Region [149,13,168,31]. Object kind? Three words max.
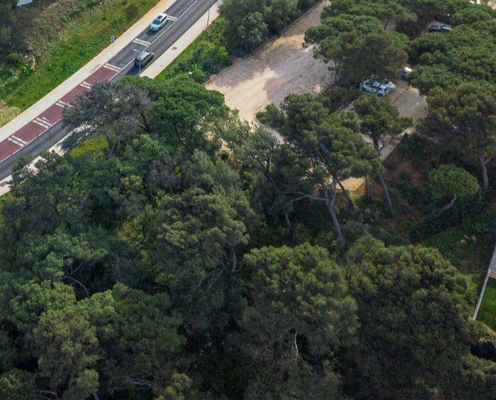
car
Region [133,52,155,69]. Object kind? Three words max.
car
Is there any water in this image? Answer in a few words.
No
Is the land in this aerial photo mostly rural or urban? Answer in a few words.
rural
